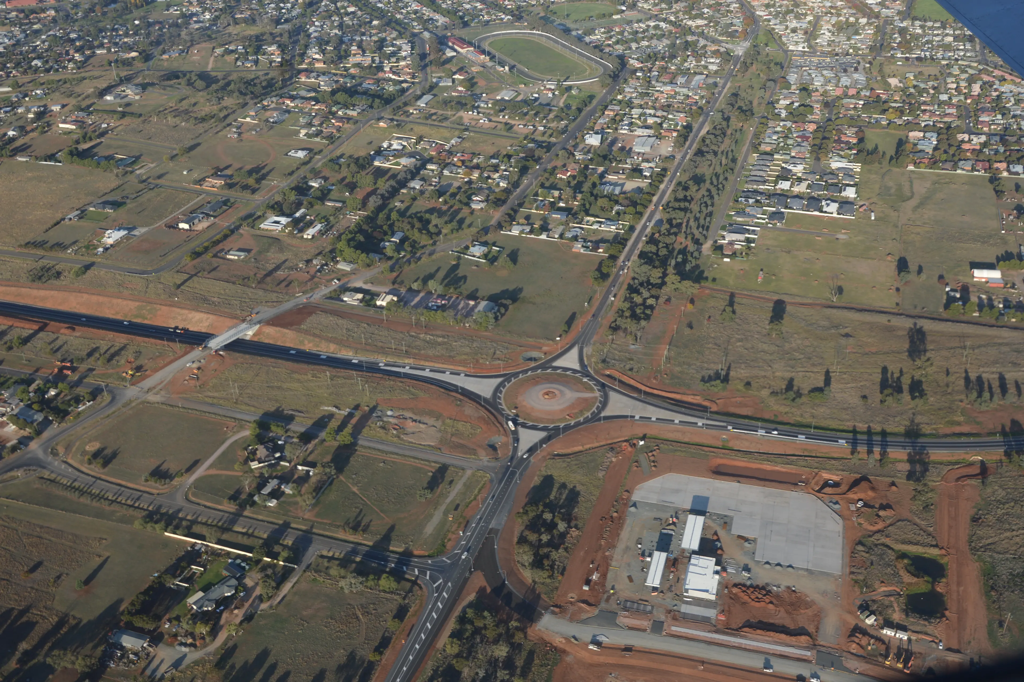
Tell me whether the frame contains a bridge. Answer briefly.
Yes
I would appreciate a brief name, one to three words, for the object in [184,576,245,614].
house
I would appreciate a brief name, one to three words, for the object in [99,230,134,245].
house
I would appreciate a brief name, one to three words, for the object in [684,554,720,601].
building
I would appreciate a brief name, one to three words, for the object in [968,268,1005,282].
barn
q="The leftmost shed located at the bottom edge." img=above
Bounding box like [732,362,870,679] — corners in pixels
[109,628,154,656]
